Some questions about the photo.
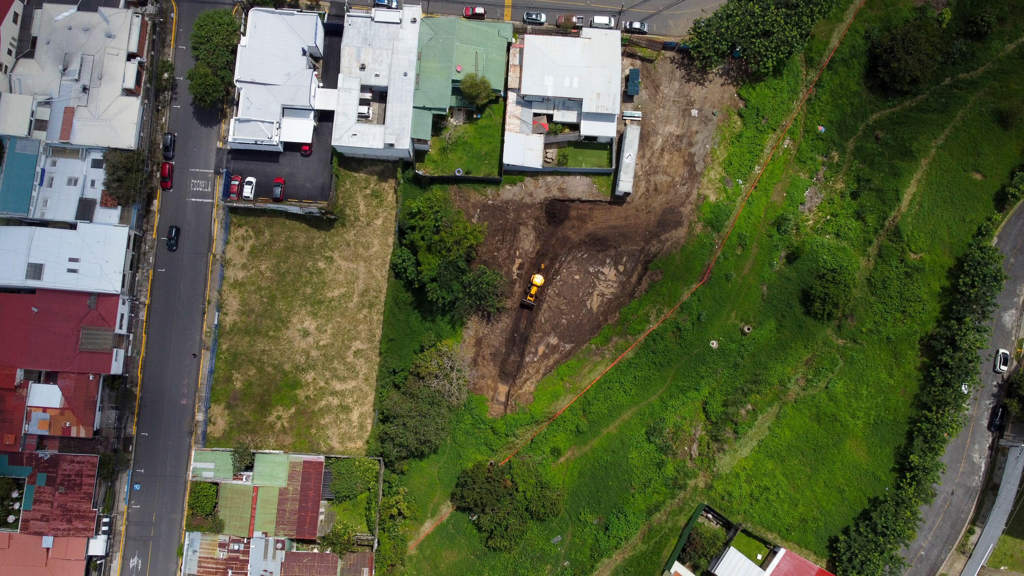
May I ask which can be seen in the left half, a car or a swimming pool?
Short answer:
car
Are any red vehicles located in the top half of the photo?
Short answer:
Yes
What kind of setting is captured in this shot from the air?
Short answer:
residential area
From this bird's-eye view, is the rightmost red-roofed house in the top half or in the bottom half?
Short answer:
bottom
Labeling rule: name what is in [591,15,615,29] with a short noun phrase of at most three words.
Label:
vehicle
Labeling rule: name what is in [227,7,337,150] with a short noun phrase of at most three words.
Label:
house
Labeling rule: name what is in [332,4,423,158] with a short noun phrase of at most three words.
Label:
building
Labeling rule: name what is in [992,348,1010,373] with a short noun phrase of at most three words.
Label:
car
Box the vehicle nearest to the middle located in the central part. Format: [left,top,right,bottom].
[519,261,547,312]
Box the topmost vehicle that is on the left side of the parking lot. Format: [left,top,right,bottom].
[162,132,178,160]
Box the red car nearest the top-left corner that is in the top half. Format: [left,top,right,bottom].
[159,162,176,190]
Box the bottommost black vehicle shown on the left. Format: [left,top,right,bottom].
[166,226,182,250]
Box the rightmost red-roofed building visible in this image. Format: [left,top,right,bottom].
[763,541,836,576]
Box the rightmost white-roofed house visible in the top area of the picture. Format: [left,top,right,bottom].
[503,28,621,168]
